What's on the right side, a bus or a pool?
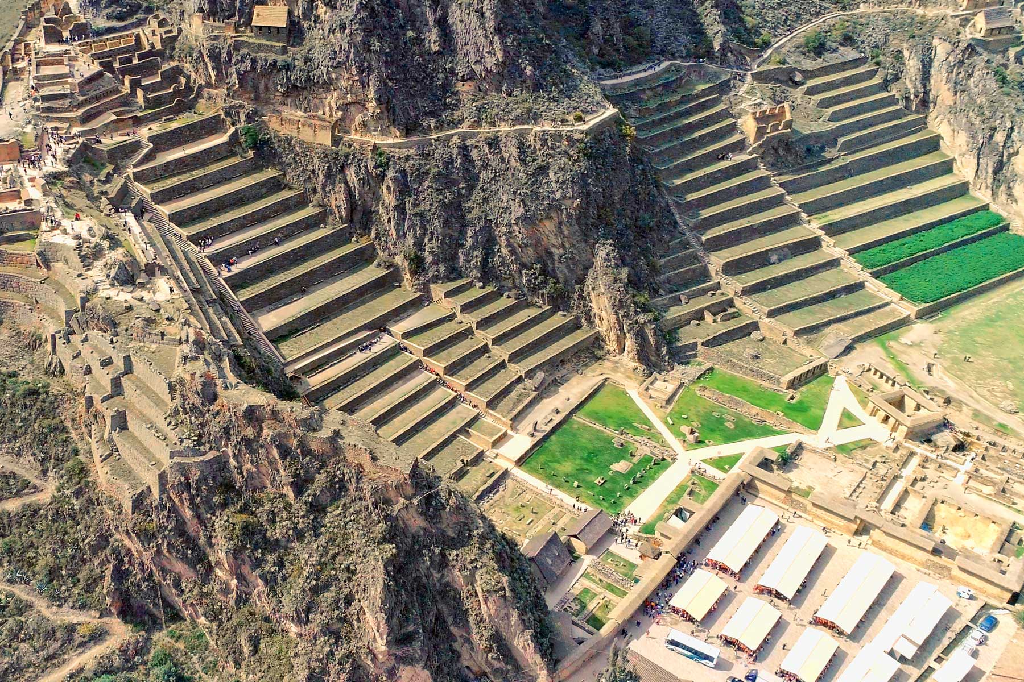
bus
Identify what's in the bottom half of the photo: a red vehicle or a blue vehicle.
blue vehicle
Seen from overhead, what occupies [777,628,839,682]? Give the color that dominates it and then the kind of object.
white tent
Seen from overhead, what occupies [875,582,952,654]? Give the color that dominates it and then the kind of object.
white tent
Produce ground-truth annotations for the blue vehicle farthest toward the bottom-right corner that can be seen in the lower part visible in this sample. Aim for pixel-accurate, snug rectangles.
[981,611,1001,634]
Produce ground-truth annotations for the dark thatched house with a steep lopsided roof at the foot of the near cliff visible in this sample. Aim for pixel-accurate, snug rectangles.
[521,532,573,586]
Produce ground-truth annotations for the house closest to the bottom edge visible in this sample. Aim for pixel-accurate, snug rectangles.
[626,649,687,682]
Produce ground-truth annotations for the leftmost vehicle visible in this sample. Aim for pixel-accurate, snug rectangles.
[658,625,725,672]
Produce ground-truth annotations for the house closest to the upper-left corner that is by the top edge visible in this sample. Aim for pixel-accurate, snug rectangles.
[252,2,290,53]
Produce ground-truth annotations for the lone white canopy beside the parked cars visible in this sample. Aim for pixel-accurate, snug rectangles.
[935,644,977,682]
